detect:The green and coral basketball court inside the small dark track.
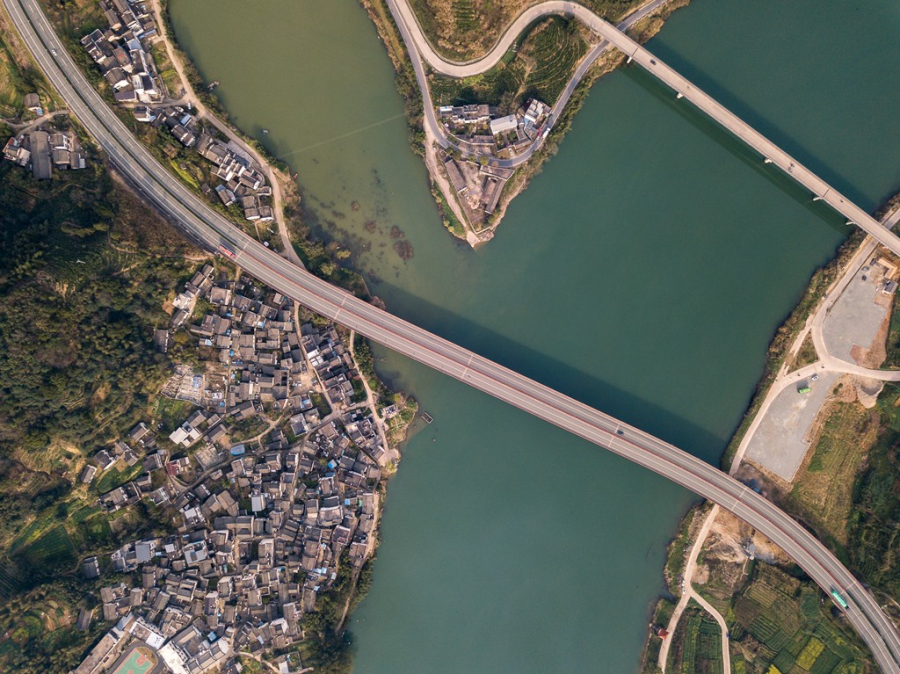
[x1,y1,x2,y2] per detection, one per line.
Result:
[112,646,156,674]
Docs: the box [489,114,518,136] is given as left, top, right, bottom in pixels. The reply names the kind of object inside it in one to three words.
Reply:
house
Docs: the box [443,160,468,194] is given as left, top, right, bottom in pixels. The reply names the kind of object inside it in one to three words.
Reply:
house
